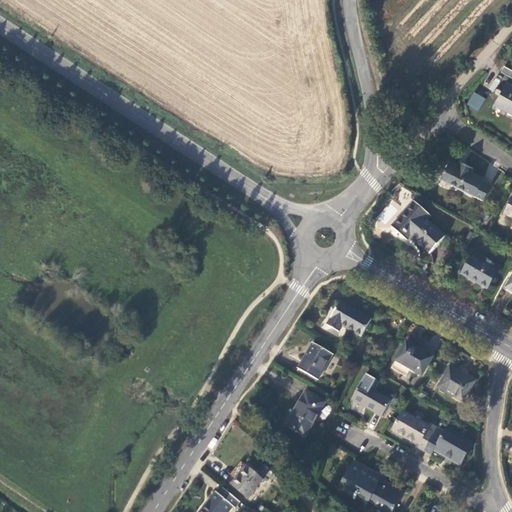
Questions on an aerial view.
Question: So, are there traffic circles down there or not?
Yes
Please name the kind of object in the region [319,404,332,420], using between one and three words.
vehicle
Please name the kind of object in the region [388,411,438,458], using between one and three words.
house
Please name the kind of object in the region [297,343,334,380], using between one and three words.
house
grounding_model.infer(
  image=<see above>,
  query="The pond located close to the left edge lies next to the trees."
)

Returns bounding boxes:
[18,279,109,343]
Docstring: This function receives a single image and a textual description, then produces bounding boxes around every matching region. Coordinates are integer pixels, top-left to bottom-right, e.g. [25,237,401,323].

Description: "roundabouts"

[250,146,396,293]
